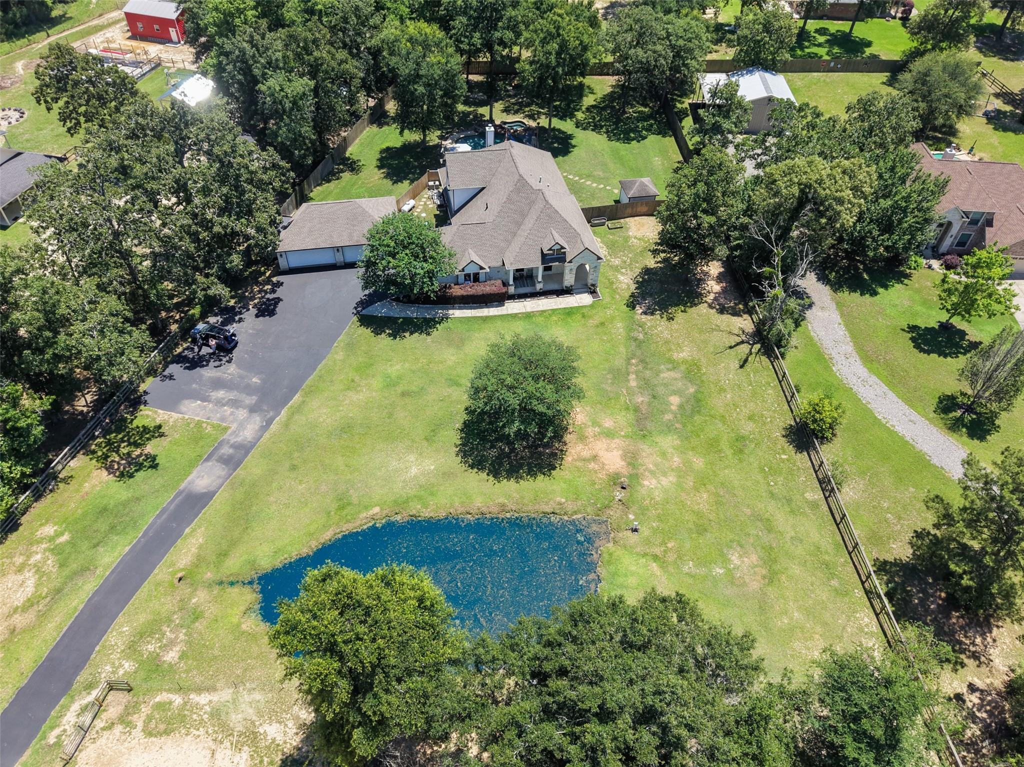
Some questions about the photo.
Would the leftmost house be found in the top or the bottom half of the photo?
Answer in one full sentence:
Seen from above, the leftmost house lies in the top half of the view.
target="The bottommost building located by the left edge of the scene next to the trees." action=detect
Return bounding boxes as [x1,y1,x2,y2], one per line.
[0,168,50,238]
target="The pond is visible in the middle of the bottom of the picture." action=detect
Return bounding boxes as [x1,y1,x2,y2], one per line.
[251,513,616,681]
